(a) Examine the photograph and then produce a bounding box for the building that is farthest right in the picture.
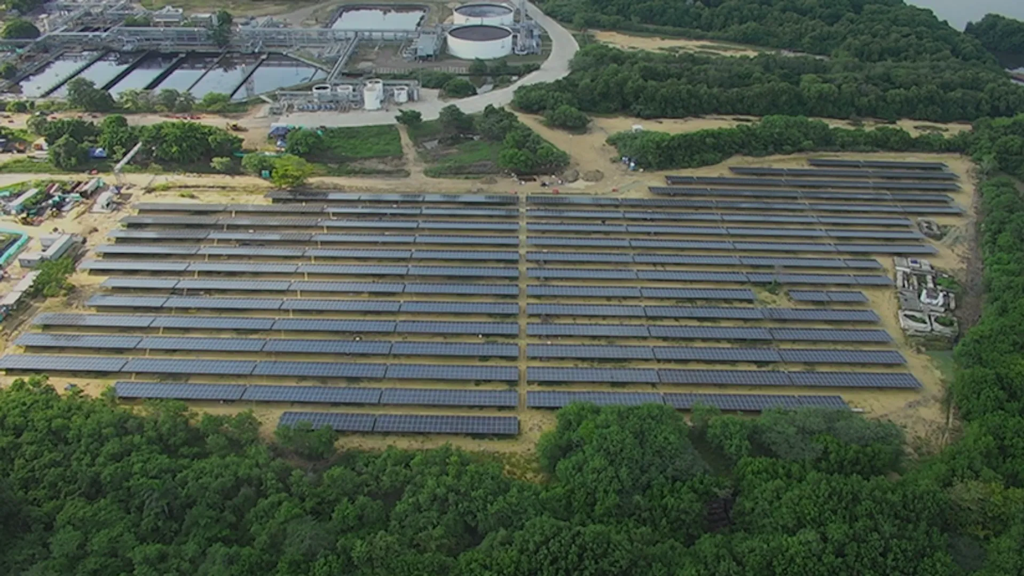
[418,35,437,64]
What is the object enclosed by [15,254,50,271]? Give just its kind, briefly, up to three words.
building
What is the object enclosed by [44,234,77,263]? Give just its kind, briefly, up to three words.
building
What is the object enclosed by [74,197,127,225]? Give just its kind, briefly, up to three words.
shed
